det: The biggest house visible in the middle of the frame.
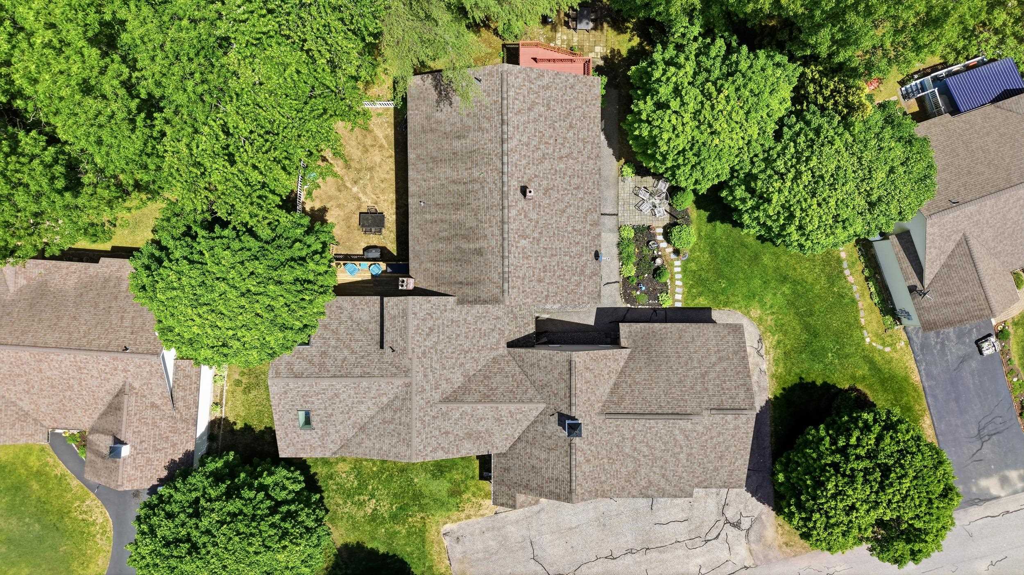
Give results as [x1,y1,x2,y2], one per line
[268,64,756,510]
